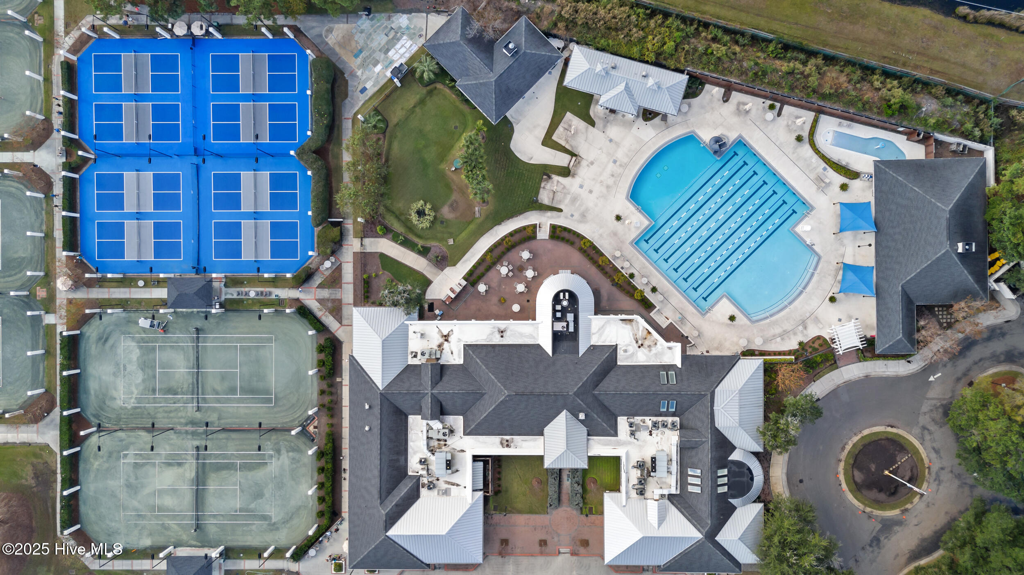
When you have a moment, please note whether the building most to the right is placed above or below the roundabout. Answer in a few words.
above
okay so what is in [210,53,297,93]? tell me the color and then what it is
blue sports court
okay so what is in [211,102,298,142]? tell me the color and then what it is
blue sports court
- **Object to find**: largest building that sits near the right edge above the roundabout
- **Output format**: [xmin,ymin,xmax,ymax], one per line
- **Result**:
[869,157,989,354]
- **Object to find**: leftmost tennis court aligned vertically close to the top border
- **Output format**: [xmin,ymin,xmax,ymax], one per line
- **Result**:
[0,20,43,134]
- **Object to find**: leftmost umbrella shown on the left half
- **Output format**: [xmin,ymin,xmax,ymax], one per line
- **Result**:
[58,274,77,292]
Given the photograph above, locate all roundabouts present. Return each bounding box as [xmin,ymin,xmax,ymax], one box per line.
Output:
[839,427,929,516]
